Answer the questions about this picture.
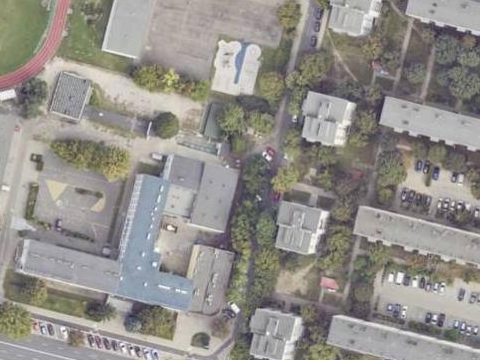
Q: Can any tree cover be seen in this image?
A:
Yes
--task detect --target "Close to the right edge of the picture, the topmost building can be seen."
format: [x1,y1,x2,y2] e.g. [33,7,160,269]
[403,0,480,36]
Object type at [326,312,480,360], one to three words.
building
